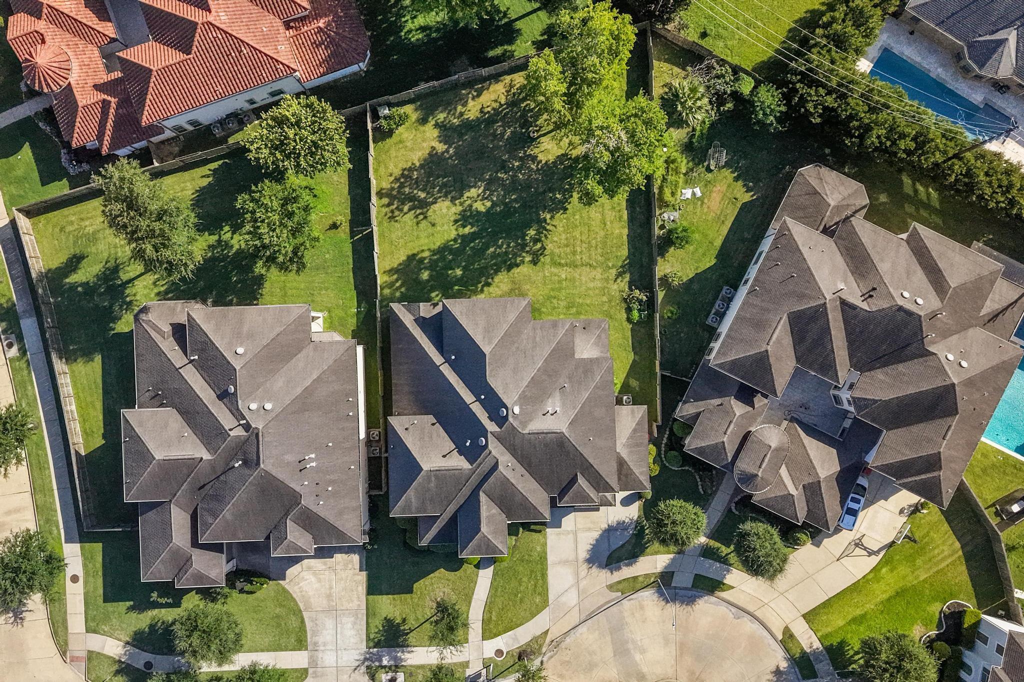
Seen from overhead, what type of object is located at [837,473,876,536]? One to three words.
car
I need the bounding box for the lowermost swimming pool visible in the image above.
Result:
[984,327,1024,456]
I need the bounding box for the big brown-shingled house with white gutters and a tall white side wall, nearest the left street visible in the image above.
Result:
[122,300,376,588]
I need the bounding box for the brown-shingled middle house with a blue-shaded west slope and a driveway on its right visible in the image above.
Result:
[387,297,651,557]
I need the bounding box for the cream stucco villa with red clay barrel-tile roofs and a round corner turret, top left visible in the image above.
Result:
[6,0,376,159]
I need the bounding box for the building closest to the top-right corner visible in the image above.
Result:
[891,0,1024,104]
